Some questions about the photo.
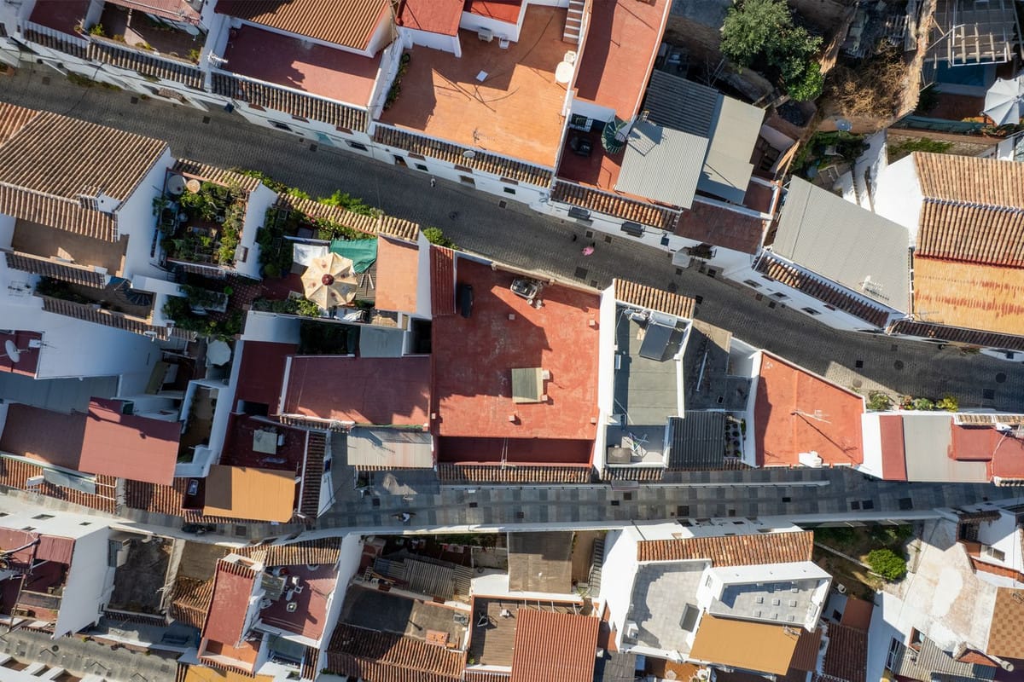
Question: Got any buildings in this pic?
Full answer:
Yes, there's a building here.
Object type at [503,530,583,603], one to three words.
house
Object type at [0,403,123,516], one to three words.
house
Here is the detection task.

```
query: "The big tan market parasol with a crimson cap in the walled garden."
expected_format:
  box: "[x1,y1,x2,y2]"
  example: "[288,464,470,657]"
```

[302,251,362,311]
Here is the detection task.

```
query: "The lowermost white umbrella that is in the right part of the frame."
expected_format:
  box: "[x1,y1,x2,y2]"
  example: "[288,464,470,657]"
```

[978,76,1024,136]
